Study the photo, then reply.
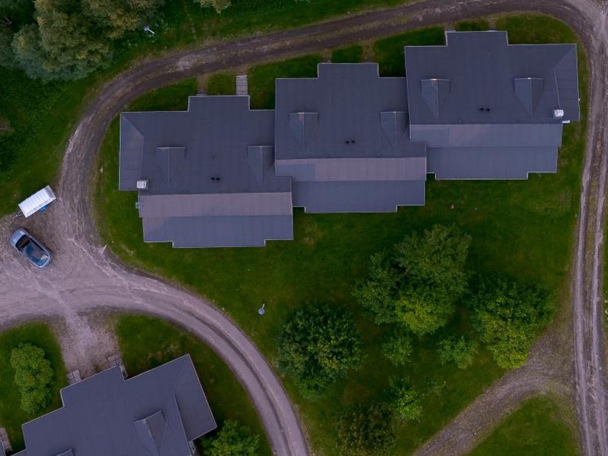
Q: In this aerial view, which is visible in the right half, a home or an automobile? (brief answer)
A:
home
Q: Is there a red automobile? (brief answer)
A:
No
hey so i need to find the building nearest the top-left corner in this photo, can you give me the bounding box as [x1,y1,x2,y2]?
[119,96,294,248]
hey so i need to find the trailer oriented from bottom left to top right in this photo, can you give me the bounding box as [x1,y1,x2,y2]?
[15,185,59,218]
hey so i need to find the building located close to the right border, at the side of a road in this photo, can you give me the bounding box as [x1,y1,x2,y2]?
[405,32,579,180]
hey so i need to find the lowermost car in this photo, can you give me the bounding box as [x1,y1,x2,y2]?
[12,227,56,271]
